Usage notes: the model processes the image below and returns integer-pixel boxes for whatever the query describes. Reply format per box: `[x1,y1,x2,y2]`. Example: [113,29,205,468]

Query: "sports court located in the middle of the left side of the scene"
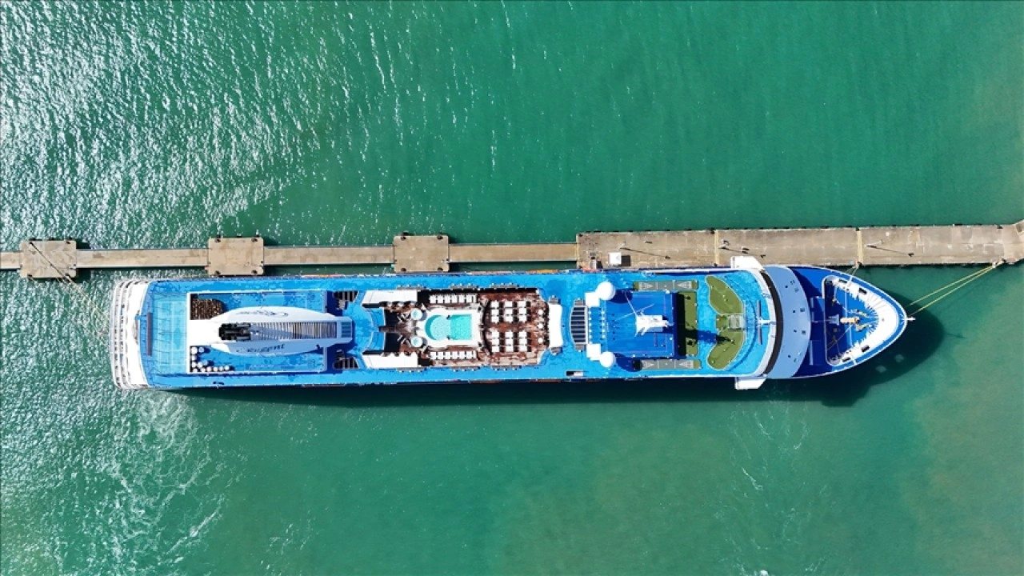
[142,293,186,374]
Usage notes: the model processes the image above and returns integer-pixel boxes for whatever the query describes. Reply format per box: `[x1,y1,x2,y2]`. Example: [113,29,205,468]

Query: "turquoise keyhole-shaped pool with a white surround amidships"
[417,307,483,349]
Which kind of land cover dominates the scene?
water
